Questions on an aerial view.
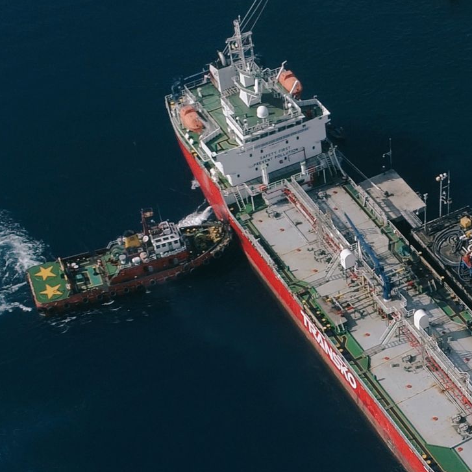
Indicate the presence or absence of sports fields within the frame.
No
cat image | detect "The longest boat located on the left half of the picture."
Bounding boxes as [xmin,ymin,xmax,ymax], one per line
[25,196,239,316]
